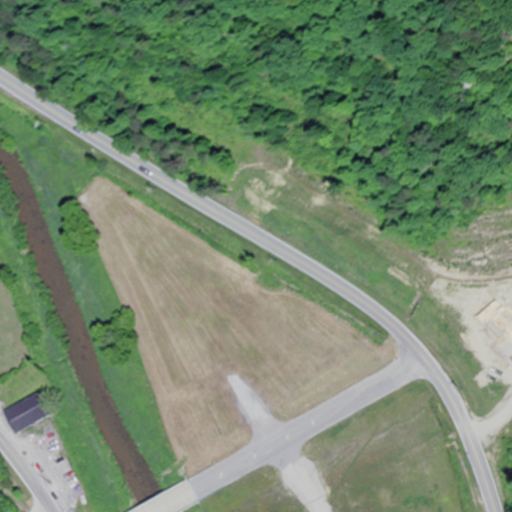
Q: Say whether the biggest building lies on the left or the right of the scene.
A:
left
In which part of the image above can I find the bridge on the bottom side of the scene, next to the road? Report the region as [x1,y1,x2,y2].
[130,478,200,512]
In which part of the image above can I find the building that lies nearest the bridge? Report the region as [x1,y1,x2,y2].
[3,388,54,432]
